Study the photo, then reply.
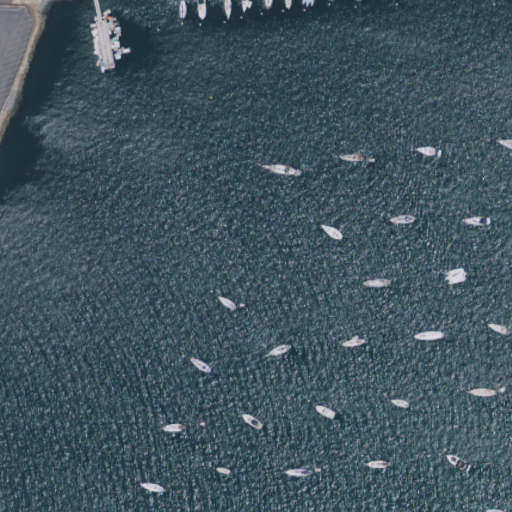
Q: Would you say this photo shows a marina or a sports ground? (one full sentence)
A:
This looks like a marina.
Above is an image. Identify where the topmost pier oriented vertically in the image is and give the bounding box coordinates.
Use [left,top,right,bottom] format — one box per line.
[96,0,116,70]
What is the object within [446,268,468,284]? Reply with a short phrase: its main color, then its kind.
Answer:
white boat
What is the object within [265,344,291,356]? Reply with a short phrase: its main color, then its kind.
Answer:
white boat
